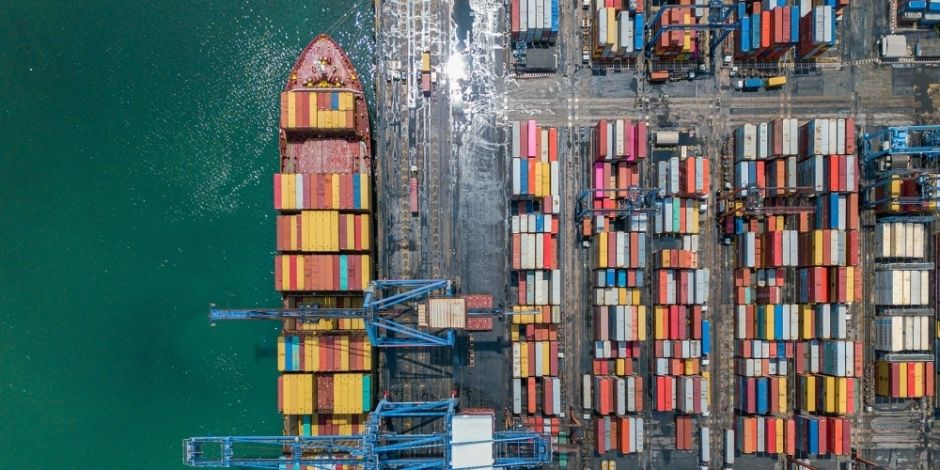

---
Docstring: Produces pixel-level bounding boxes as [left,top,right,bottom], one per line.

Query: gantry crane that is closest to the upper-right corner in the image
[862,125,940,167]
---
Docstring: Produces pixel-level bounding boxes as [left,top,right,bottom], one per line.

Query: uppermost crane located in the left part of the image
[205,274,546,352]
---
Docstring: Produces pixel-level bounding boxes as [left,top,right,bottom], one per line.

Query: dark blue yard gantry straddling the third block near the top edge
[645,2,738,54]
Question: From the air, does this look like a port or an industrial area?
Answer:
port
